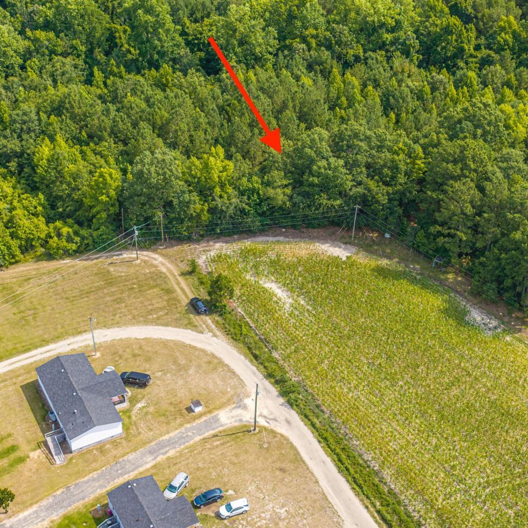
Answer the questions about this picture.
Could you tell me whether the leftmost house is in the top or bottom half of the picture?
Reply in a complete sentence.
The leftmost house sits in the bottom half of the picture.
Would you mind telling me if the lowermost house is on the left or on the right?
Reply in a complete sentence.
The lowermost house is on the left side of the image.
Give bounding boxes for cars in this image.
[95,365,118,375]
[165,468,190,499]
[189,297,208,315]
[191,487,226,511]
[120,372,153,390]
[216,496,252,521]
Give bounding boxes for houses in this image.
[107,474,201,528]
[36,354,124,452]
